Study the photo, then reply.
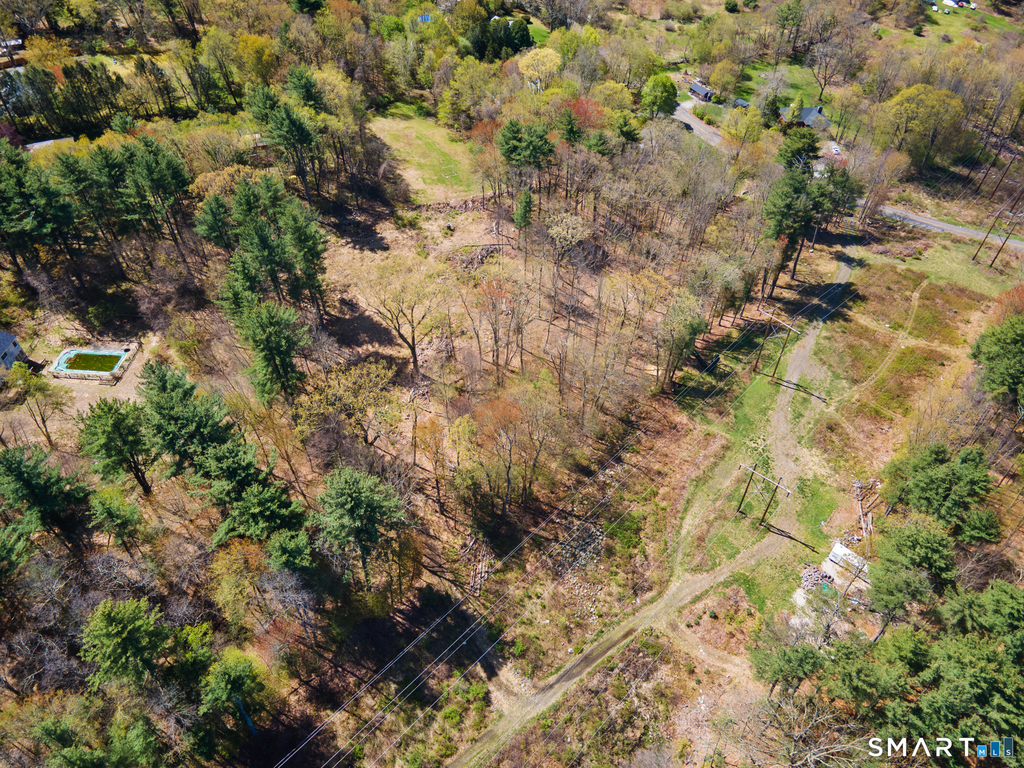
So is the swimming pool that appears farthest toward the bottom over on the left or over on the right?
left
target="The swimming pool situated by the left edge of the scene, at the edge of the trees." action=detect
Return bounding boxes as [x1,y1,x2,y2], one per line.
[49,346,127,377]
